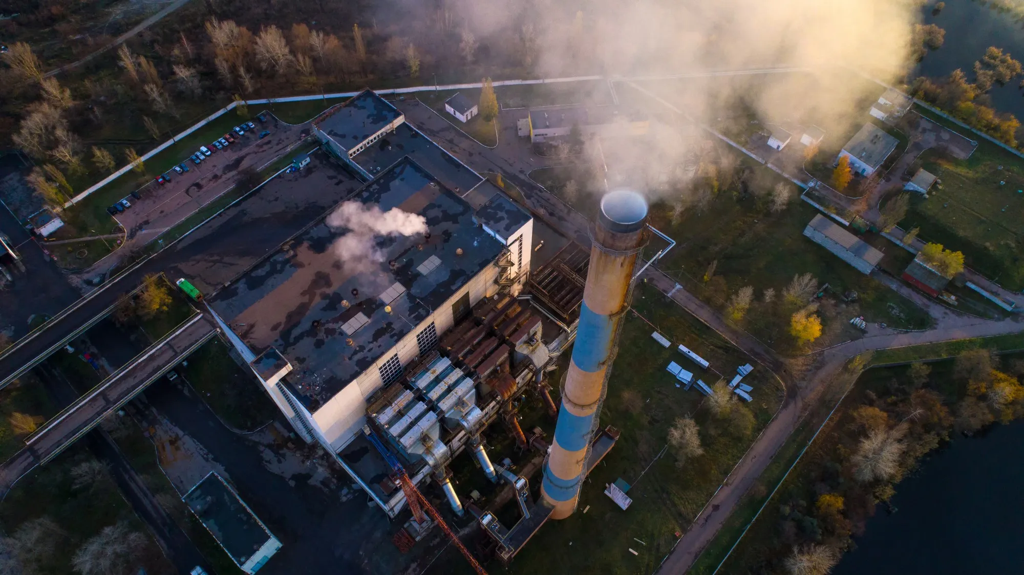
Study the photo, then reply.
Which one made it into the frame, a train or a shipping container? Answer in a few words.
shipping container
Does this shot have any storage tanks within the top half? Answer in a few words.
No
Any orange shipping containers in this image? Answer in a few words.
No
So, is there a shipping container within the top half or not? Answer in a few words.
No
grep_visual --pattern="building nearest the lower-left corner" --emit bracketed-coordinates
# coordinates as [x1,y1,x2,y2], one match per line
[183,469,281,570]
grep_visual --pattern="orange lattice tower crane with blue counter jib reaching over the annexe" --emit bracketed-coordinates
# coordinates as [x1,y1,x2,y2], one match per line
[350,413,489,575]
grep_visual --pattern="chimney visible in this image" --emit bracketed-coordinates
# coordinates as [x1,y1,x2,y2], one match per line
[547,187,651,514]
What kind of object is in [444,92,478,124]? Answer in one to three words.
house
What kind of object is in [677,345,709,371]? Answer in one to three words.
shipping container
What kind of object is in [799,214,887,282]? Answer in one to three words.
barn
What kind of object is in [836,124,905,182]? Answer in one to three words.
building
